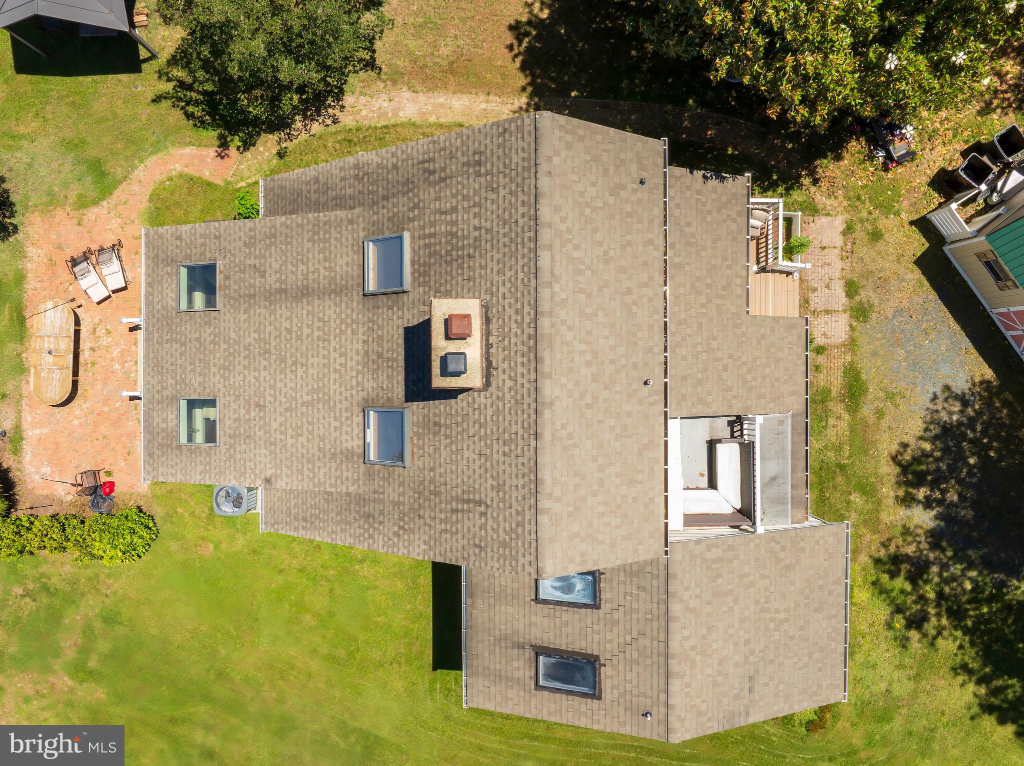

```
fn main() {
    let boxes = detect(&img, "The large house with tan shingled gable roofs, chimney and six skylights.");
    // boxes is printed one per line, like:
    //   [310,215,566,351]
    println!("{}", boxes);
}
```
[122,108,850,744]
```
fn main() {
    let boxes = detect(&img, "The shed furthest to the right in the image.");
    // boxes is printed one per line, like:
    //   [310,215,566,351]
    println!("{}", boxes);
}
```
[943,191,1024,361]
